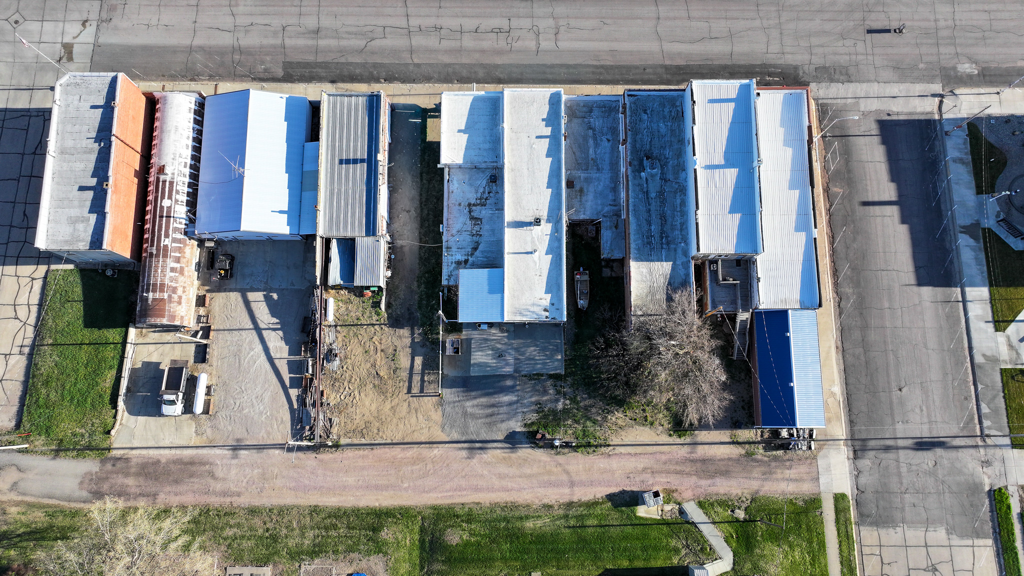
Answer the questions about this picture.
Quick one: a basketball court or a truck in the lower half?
truck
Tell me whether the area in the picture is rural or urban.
urban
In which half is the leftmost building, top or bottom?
top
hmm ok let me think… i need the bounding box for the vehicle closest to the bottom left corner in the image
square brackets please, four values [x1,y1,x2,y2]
[159,357,193,419]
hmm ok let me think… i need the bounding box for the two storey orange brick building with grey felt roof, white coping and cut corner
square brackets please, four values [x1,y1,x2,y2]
[36,75,150,264]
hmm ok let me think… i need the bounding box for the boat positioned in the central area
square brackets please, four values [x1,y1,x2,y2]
[575,267,588,309]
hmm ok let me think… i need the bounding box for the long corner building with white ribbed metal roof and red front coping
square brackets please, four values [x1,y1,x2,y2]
[752,85,824,312]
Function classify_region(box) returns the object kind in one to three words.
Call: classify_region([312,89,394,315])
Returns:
building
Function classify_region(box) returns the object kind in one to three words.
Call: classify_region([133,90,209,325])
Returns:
shed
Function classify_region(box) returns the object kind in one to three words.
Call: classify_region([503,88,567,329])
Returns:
building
